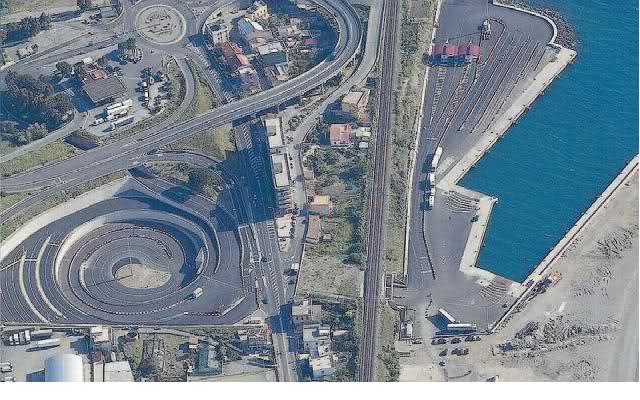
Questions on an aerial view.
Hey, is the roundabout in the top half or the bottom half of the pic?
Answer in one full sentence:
It is in the top half that the roundabout appears.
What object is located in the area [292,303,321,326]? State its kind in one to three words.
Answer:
house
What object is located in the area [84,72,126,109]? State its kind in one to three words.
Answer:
building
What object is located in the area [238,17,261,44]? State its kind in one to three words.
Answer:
building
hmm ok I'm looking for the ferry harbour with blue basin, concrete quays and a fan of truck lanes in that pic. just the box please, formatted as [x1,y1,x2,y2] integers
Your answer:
[404,0,640,334]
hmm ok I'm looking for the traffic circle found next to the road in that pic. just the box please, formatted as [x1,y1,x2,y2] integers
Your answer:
[116,0,205,58]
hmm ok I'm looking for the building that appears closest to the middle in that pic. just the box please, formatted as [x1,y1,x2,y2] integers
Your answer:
[313,195,331,214]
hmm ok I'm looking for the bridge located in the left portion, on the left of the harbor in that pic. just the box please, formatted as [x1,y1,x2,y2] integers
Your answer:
[0,0,362,193]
